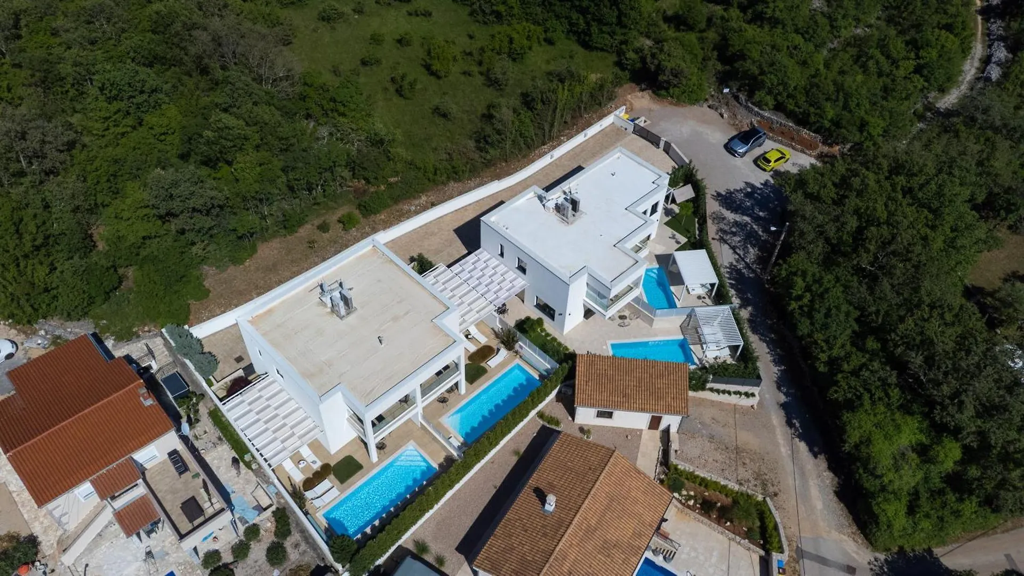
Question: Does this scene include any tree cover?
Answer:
Yes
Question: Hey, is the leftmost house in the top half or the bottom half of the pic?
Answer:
bottom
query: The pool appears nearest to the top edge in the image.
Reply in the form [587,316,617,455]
[638,263,680,312]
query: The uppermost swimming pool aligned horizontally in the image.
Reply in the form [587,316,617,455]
[606,334,698,368]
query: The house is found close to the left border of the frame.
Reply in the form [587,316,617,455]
[0,335,237,557]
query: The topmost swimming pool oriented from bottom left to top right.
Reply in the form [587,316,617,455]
[436,356,540,448]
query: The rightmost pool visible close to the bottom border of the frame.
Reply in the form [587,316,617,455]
[633,548,696,576]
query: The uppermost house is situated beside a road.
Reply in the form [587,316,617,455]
[481,146,669,335]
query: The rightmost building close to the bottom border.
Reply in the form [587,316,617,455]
[468,431,676,576]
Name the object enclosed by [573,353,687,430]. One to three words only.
shed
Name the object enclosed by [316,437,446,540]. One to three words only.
swimming pool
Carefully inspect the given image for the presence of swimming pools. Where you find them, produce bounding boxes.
[153,566,182,576]
[638,263,680,312]
[316,437,446,540]
[436,356,540,448]
[606,334,698,368]
[633,548,696,576]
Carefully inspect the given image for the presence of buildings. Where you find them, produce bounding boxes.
[468,431,676,576]
[573,353,687,430]
[0,335,237,557]
[481,146,669,335]
[237,239,464,460]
